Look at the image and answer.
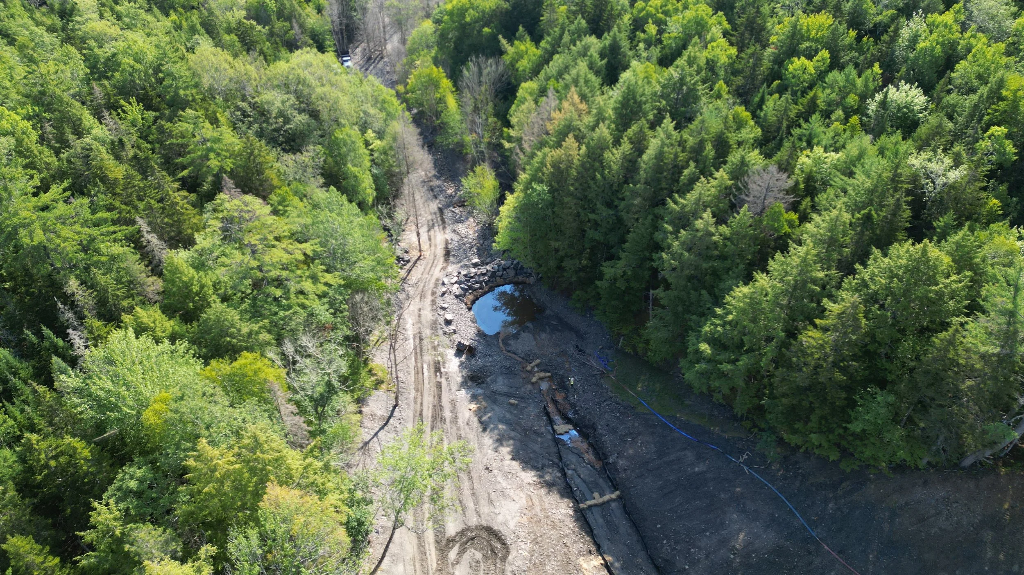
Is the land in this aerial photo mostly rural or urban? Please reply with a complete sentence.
The land in this view is best described as rural.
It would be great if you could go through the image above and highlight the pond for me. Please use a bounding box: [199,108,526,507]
[470,281,549,340]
